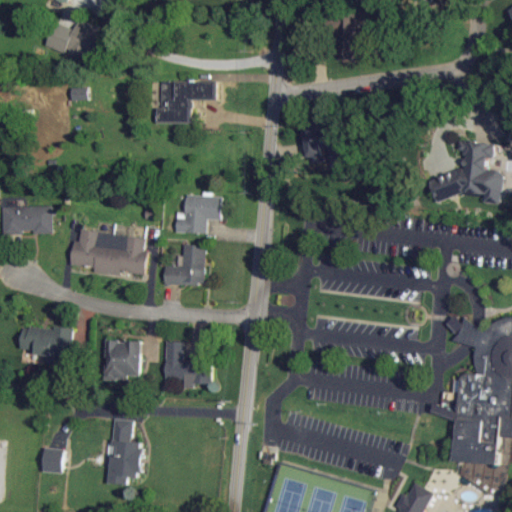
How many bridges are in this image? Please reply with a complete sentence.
I count no bridges.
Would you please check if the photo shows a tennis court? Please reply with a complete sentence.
Yes, there is a tennis court in the image.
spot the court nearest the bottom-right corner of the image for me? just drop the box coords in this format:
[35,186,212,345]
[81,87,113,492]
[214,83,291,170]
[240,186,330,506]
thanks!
[336,482,376,512]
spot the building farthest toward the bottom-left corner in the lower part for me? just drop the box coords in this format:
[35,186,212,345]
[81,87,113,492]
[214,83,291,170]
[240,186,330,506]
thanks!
[40,449,64,473]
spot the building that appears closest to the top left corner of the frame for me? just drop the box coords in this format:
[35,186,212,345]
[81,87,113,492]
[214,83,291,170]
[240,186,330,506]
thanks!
[46,20,82,53]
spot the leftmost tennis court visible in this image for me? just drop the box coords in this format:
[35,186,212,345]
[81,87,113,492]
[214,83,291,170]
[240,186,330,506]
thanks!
[268,465,314,512]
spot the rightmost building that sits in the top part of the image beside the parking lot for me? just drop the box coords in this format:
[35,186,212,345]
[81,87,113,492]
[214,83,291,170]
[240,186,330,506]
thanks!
[429,142,504,204]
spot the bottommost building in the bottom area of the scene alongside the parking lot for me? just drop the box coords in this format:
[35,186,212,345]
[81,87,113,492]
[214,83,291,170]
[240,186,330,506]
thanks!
[394,484,434,512]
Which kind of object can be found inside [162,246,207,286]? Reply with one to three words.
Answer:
house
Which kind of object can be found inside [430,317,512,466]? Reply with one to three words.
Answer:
building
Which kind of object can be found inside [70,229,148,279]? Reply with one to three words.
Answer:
house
